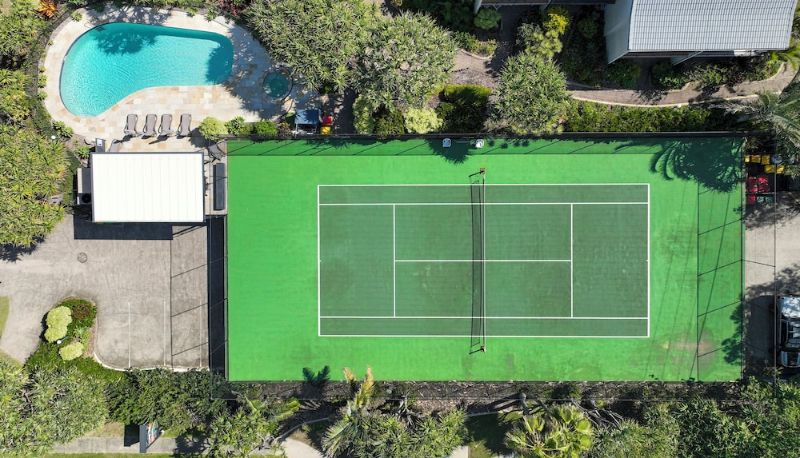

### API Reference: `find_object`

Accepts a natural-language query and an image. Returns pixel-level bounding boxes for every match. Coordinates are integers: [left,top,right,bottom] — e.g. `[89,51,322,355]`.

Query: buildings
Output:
[91,152,216,223]
[606,0,797,65]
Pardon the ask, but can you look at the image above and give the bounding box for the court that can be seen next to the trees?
[223,138,745,384]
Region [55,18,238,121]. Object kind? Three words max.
swimming pool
